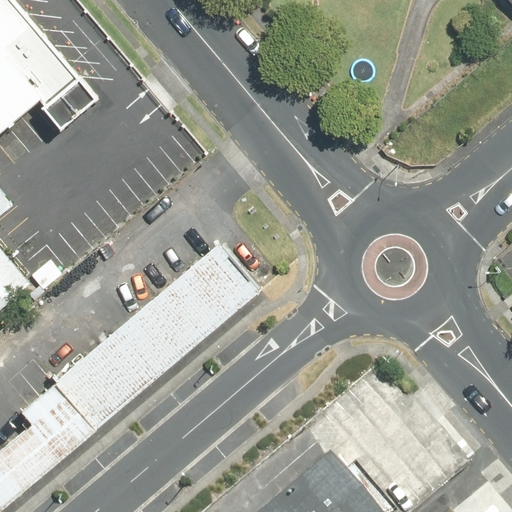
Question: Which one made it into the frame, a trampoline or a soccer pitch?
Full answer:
It is a trampoline that can be seen here.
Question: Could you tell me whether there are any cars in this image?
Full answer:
Yes, there's a car down there.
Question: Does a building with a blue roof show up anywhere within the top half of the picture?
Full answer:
No, there is no building with a blue roof within the top half of the picture.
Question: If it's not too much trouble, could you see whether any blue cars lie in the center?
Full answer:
No, no blue car is visible in the center.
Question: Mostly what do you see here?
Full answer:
What you mostly see from above here is paved ground.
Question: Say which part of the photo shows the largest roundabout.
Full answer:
Look in the right portion of the view to spot the largest roundabout.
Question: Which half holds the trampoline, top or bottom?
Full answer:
The trampoline is in the top half of the image.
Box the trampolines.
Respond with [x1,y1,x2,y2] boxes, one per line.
[350,58,376,82]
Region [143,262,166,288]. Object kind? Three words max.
car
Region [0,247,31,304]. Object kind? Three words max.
building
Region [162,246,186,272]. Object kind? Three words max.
car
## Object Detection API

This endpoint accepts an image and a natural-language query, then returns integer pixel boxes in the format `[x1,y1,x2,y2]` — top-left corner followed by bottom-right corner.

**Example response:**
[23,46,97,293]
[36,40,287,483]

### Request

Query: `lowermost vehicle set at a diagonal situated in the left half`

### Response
[0,411,21,441]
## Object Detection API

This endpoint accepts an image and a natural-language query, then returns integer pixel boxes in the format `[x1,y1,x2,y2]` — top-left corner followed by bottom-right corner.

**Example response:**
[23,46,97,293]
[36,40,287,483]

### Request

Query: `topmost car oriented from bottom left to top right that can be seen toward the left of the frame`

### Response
[142,196,172,224]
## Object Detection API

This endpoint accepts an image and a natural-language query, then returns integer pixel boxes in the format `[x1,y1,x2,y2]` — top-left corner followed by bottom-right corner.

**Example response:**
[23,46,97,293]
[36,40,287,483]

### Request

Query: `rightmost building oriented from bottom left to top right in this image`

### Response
[56,245,262,430]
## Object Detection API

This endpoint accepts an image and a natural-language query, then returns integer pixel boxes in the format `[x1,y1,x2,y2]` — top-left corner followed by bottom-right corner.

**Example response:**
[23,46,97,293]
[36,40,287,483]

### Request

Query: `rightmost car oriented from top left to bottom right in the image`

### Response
[462,384,492,416]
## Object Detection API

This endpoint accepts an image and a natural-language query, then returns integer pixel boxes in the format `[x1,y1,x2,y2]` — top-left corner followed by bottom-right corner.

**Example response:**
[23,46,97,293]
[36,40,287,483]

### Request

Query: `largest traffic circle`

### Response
[362,233,428,300]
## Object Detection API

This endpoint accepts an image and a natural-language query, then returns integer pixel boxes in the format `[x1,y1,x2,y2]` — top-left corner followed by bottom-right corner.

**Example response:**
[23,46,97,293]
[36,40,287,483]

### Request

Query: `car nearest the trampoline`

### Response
[234,26,260,56]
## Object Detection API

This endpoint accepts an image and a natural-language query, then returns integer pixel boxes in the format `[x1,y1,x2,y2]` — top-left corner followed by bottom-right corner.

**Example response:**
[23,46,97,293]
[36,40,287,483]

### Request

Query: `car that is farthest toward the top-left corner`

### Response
[164,7,192,38]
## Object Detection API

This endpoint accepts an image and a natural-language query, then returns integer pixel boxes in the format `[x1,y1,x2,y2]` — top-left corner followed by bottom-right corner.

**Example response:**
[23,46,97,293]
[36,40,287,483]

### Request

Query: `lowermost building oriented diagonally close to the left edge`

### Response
[0,384,96,510]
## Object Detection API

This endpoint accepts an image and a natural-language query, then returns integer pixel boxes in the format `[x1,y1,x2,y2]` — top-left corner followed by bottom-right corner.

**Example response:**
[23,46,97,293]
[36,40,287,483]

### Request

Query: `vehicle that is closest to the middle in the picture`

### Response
[234,242,260,271]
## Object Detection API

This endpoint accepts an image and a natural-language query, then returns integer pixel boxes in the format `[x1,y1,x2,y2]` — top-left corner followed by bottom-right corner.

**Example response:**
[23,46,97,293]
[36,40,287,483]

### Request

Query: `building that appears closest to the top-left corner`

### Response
[0,0,98,134]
